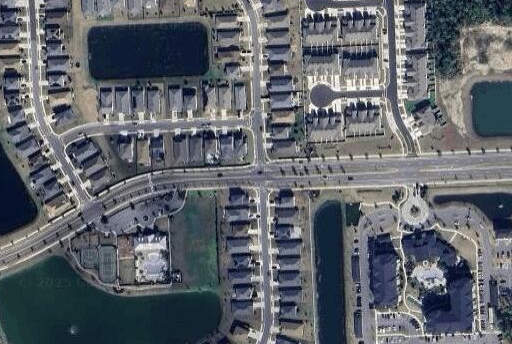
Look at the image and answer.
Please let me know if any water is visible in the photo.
Yes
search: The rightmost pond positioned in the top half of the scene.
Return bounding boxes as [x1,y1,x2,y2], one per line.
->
[471,80,512,138]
